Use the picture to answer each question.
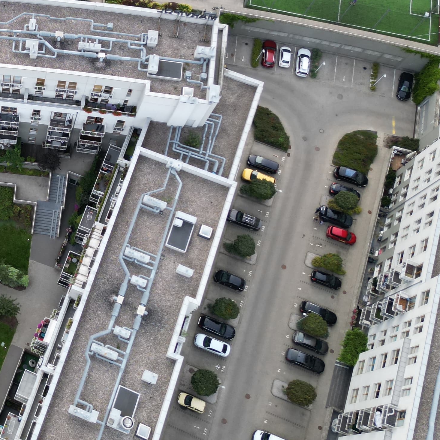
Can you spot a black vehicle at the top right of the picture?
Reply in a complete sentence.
Yes, I can see a black vehicle at the top right of the picture.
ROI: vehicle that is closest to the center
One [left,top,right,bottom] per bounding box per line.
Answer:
[227,209,263,231]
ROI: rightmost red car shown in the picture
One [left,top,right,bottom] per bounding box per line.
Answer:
[325,226,357,246]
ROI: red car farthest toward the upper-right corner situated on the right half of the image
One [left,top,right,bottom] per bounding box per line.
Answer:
[261,41,278,69]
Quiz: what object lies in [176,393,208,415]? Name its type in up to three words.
car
